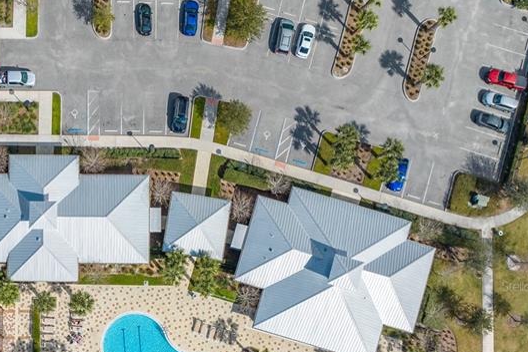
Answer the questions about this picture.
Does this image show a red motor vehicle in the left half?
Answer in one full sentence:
No, no red motor vehicle is visible in the left half.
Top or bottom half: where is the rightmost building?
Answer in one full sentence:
The rightmost building is in the bottom half of the image.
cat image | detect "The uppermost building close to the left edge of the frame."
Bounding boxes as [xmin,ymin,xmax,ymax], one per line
[0,155,149,281]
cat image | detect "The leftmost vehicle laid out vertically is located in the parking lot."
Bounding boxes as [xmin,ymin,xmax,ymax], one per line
[136,2,153,39]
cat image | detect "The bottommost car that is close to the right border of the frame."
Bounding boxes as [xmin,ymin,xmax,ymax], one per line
[470,111,508,133]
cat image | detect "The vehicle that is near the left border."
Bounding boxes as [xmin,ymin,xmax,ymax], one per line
[0,69,36,88]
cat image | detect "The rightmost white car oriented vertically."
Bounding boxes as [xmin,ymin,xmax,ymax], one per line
[295,24,315,61]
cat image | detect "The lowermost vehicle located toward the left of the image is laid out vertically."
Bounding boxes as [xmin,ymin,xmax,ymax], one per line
[172,95,190,133]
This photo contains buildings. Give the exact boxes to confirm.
[234,187,436,352]
[0,155,149,281]
[163,191,232,260]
